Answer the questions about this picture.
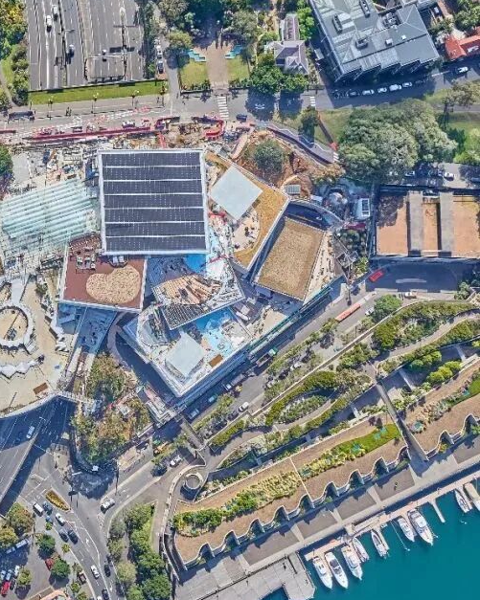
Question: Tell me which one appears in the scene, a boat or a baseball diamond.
boat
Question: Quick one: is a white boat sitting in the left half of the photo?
No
